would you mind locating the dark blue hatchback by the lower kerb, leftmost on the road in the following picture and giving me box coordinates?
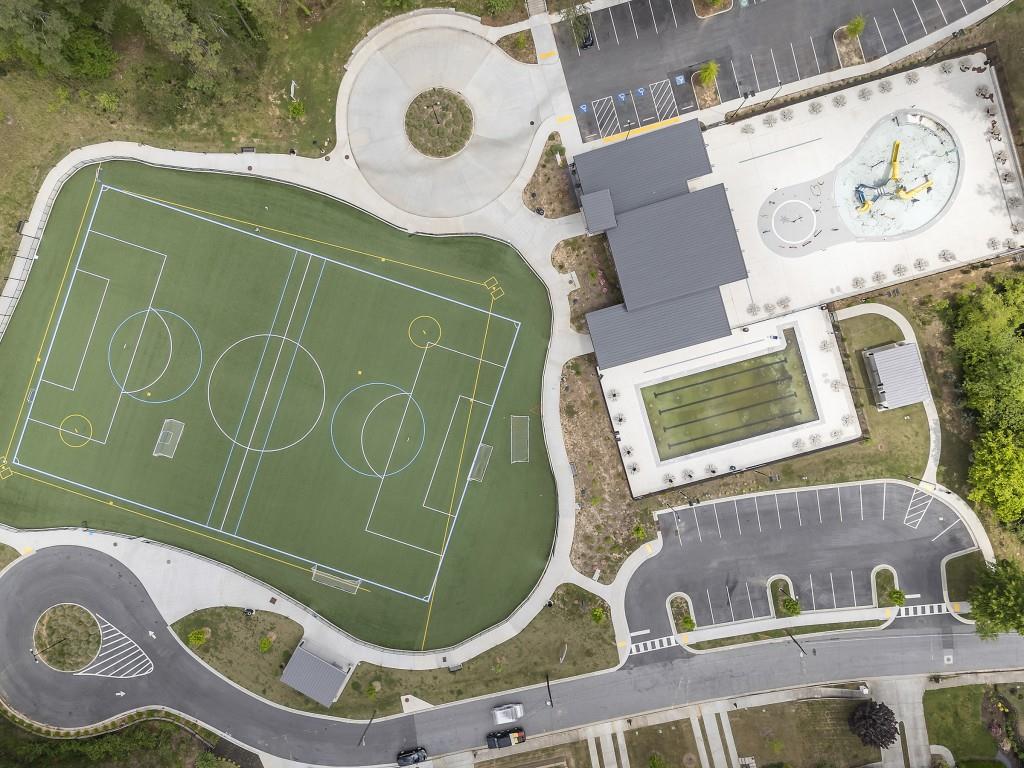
[396,747,426,768]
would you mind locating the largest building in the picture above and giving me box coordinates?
[571,118,748,371]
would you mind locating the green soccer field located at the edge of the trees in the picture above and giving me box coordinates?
[0,158,559,652]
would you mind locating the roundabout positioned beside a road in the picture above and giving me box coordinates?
[0,545,413,766]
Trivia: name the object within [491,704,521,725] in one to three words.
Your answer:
car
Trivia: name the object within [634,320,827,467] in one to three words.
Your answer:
swimming pool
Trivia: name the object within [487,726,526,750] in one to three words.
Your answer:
truck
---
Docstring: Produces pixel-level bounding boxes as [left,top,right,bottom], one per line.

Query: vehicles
[577,14,596,46]
[487,726,526,750]
[396,747,426,768]
[491,704,521,725]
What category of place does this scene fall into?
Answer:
sports ground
